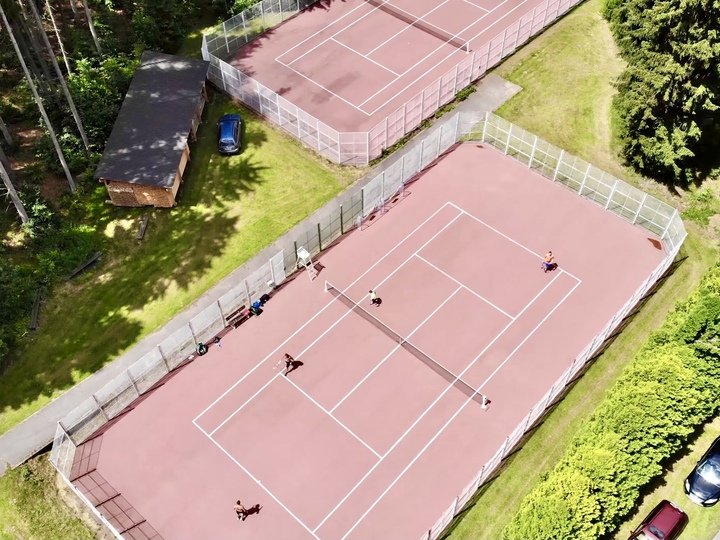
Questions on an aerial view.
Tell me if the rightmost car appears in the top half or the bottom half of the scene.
bottom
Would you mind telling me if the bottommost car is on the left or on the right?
right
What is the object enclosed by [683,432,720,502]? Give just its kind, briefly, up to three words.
car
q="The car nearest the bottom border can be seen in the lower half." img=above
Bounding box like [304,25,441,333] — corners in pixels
[637,501,694,540]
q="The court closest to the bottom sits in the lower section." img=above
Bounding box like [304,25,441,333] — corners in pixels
[70,141,669,540]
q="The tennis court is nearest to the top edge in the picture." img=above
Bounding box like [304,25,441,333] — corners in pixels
[206,0,581,165]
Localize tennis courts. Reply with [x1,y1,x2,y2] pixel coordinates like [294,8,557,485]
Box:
[206,0,581,165]
[70,141,669,540]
